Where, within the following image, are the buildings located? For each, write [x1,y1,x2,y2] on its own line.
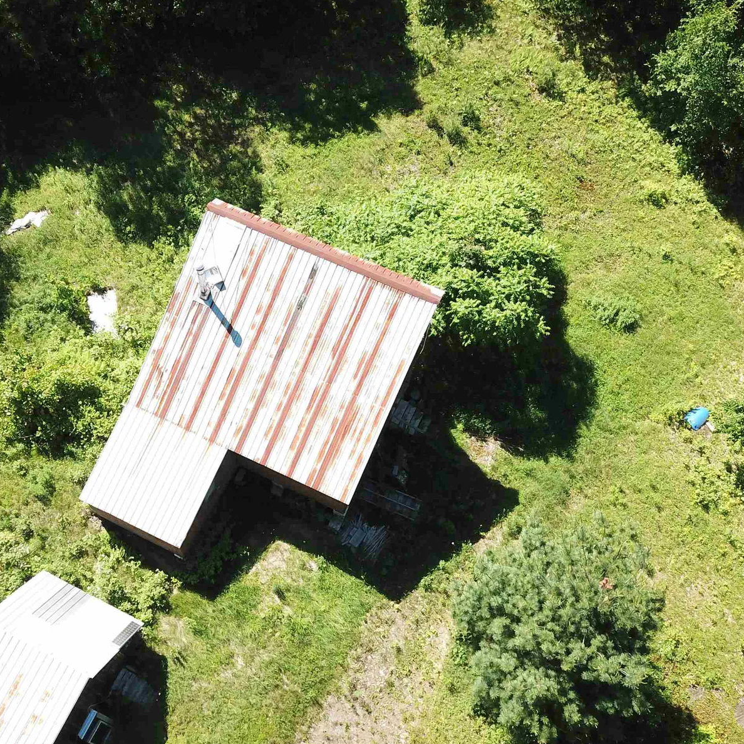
[0,570,146,744]
[87,197,445,559]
